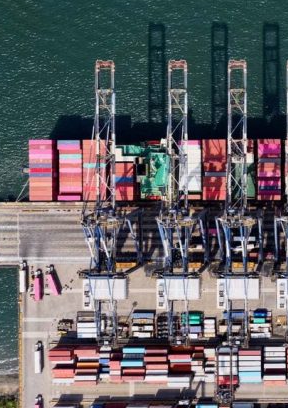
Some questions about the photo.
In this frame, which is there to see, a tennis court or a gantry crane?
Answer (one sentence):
The image shows a gantry crane.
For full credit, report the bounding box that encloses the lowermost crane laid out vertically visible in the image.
[215,338,238,404]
